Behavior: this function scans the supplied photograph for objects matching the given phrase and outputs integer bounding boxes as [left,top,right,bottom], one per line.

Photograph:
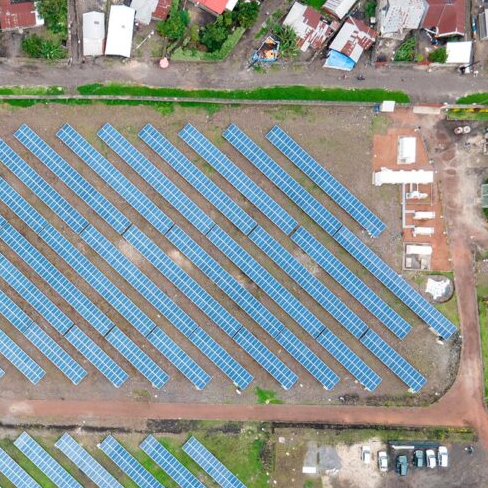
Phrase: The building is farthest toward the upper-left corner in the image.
[0,0,43,32]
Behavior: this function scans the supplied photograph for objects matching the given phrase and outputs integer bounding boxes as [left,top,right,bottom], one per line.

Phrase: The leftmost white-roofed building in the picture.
[83,13,104,55]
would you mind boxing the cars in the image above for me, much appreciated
[377,452,388,472]
[396,455,408,477]
[437,446,448,467]
[361,444,371,464]
[413,449,425,468]
[425,449,437,469]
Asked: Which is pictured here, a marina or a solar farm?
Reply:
solar farm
